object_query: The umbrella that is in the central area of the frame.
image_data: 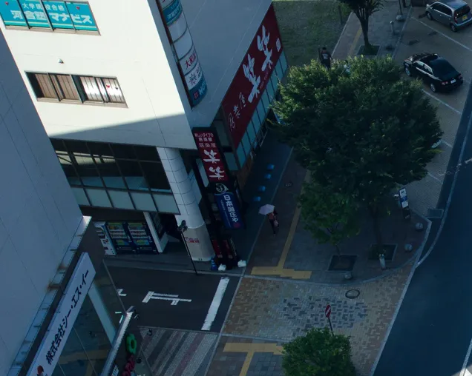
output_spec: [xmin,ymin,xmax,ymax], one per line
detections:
[256,201,275,214]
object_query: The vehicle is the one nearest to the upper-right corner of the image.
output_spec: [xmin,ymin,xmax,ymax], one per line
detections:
[416,0,470,35]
